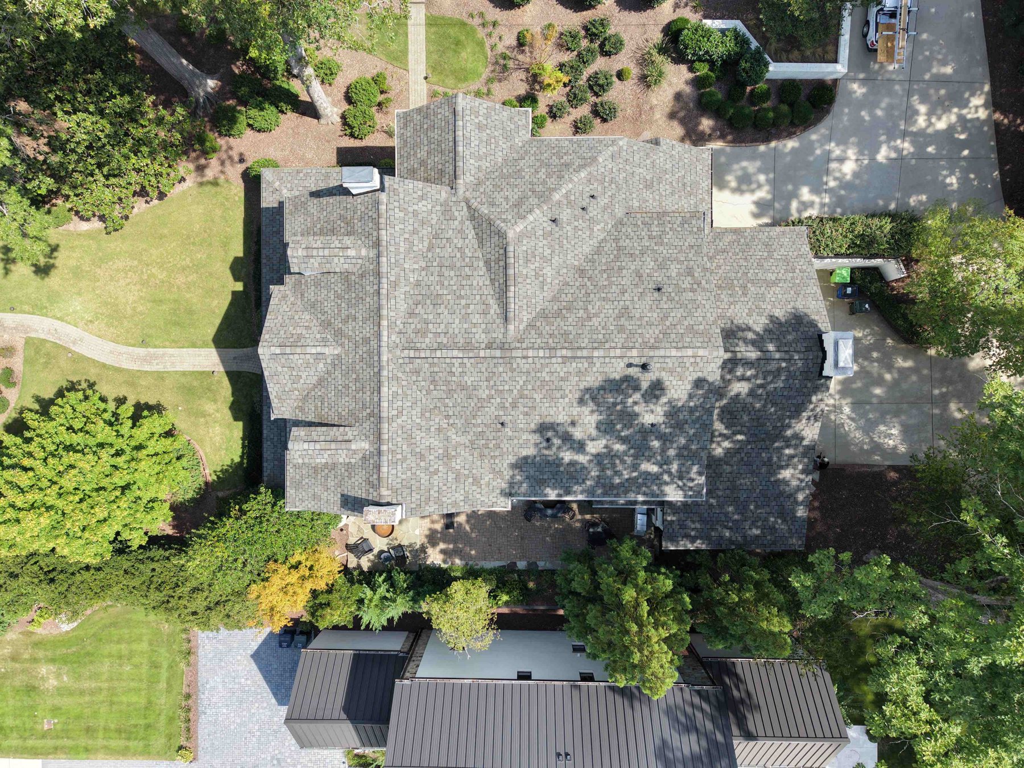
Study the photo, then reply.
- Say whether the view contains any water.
No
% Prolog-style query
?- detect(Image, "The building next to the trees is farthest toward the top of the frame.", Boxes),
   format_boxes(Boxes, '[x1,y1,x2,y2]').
[259,93,854,550]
